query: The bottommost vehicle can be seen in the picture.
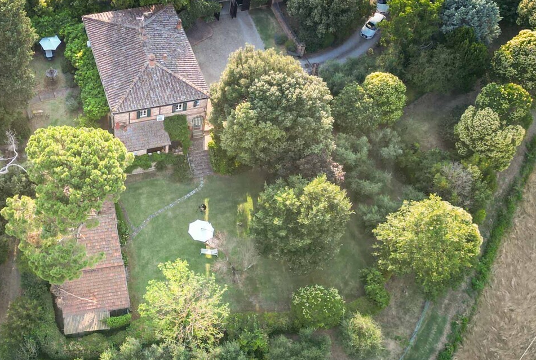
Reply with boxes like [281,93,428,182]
[362,13,383,40]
